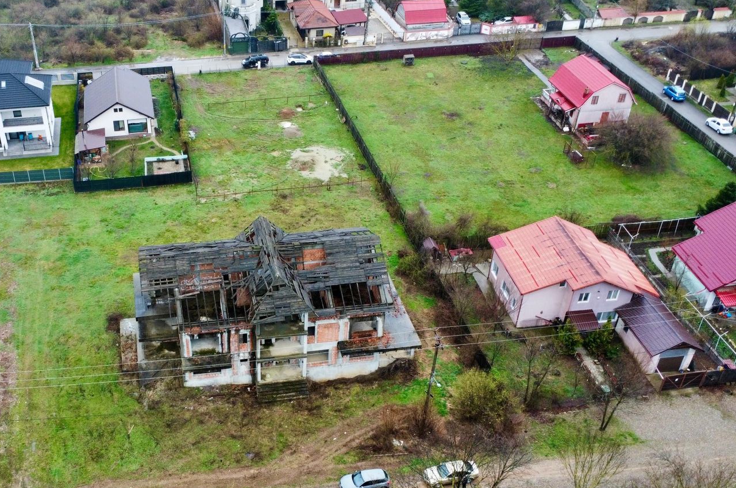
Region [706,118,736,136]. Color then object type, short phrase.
white car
